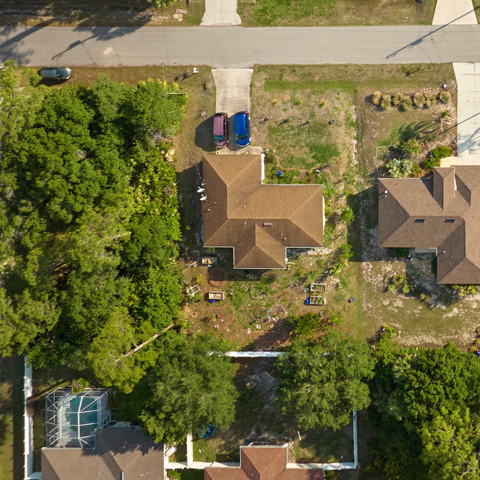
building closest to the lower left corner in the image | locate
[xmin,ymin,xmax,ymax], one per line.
[41,424,169,480]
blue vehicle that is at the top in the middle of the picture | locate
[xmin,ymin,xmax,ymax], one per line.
[234,112,251,146]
